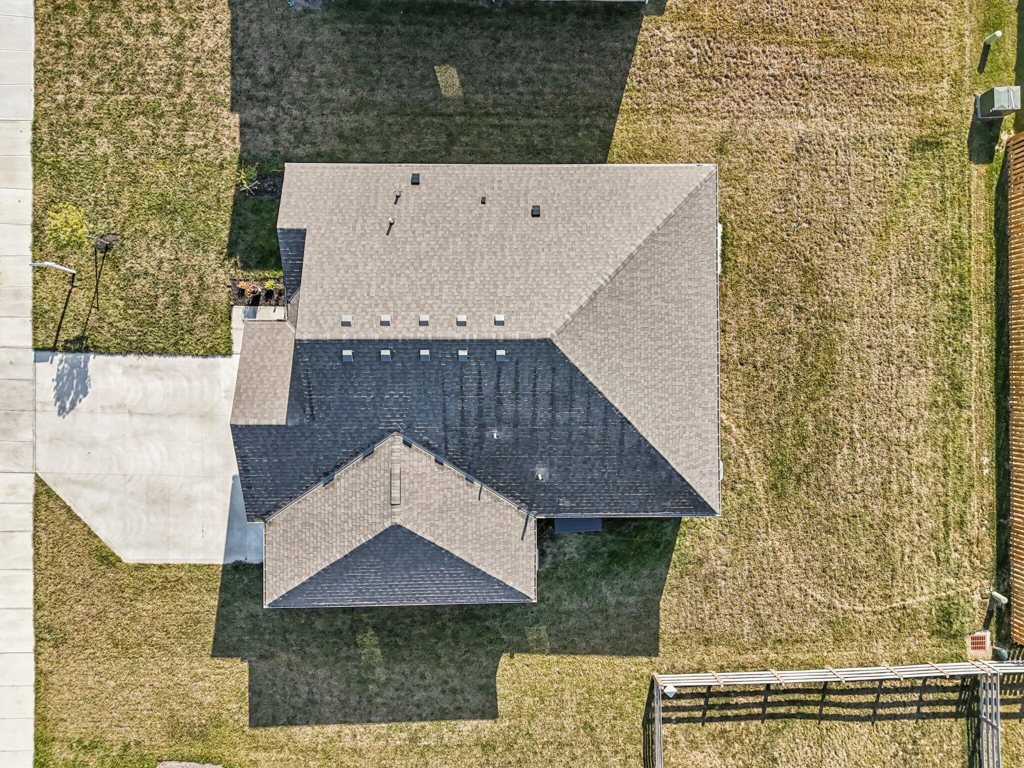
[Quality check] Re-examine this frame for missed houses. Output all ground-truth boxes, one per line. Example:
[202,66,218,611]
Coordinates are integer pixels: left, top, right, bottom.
[492,0,651,10]
[229,161,721,607]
